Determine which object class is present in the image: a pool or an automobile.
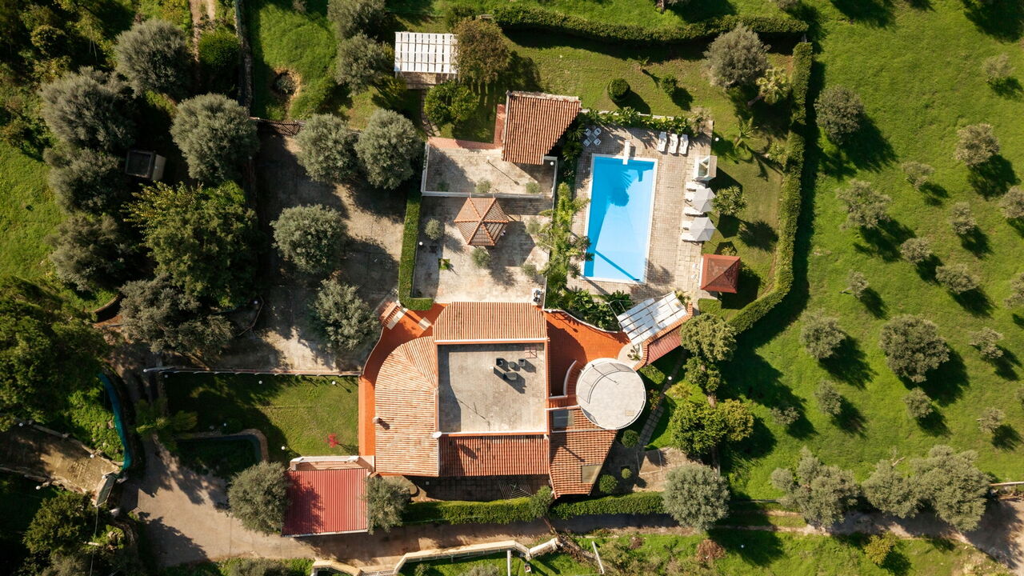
pool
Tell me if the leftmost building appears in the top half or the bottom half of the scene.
bottom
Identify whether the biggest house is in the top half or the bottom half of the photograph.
bottom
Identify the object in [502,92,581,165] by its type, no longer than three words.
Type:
shed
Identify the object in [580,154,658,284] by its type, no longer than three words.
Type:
swimming pool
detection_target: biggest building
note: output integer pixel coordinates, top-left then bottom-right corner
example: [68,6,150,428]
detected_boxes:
[374,302,646,497]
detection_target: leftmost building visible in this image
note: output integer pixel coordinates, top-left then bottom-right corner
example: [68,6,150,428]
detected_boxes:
[281,467,371,537]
